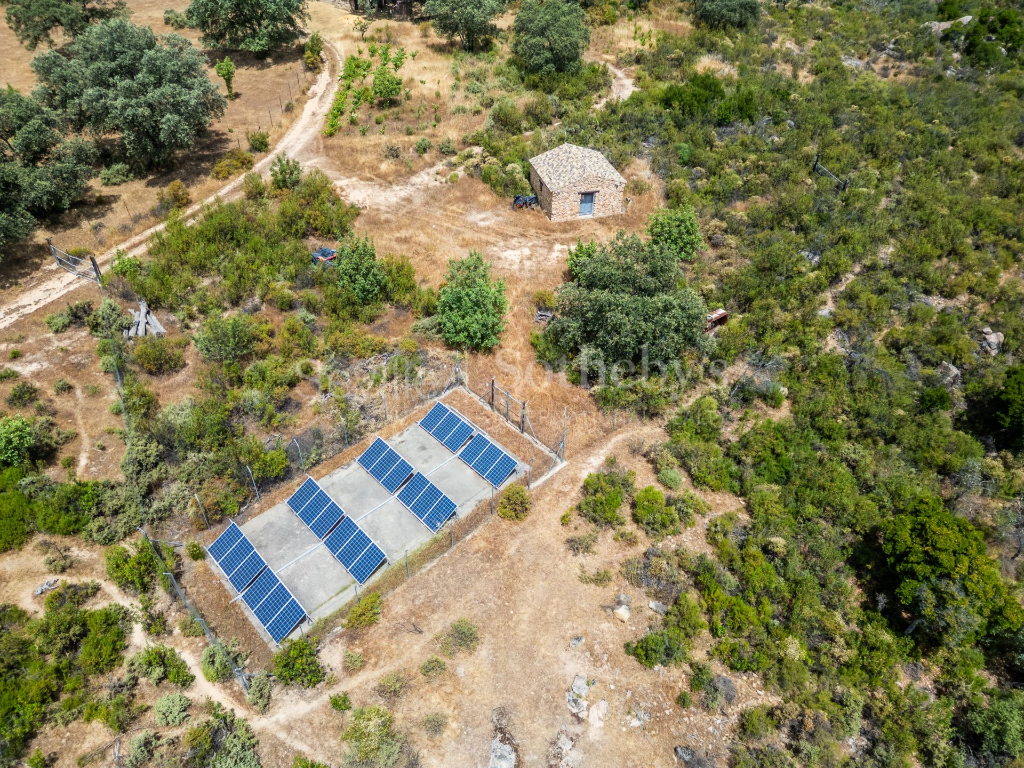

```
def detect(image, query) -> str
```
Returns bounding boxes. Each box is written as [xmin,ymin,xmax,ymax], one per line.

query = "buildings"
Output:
[528,126,628,222]
[379,0,414,21]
